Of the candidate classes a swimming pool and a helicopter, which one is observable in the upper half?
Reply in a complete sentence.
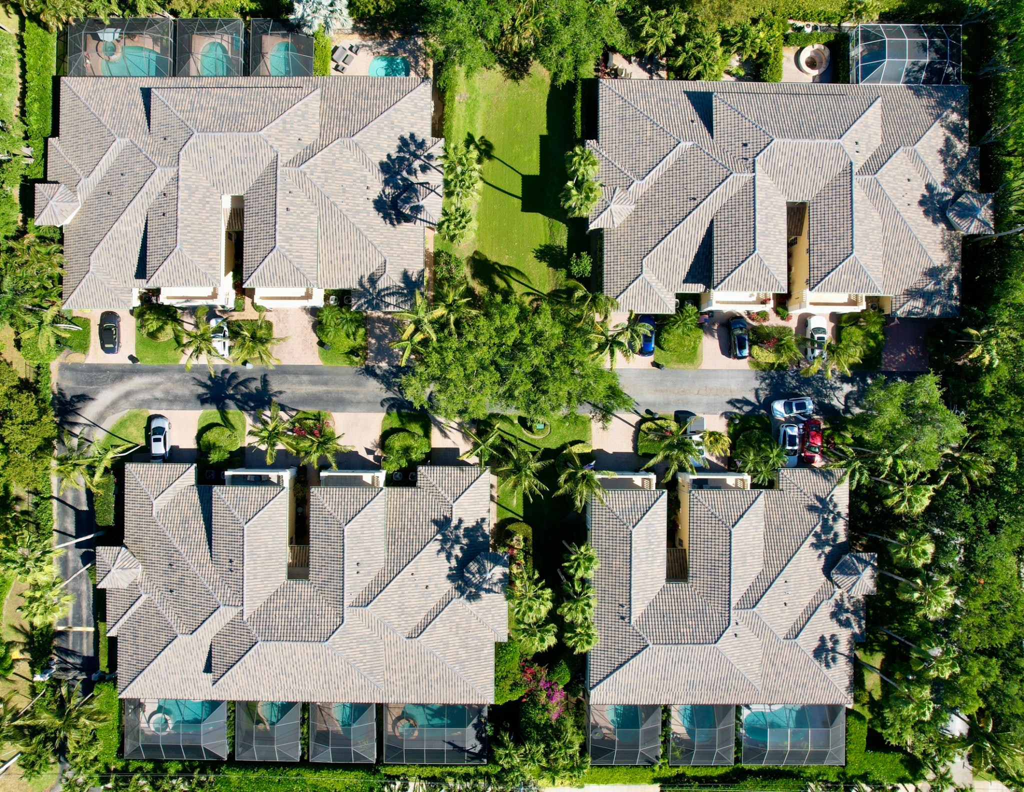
Visible in the upper half is a swimming pool.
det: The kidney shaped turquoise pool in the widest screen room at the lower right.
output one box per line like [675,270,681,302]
[743,704,840,759]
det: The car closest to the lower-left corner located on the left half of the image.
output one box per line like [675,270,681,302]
[148,417,172,461]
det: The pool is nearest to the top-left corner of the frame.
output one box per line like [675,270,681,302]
[56,18,174,76]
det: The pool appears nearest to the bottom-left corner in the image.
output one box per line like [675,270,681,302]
[129,701,229,756]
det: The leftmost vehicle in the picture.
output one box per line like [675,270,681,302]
[99,312,123,355]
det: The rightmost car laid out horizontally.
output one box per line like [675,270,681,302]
[769,397,814,418]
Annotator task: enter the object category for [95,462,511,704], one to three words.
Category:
building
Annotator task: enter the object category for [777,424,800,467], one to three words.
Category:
car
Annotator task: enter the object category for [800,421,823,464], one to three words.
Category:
car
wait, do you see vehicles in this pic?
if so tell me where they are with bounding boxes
[637,316,657,357]
[727,317,750,360]
[777,424,800,467]
[209,318,232,359]
[148,417,172,461]
[769,397,814,418]
[805,318,828,359]
[799,420,805,436]
[99,312,123,355]
[800,421,823,464]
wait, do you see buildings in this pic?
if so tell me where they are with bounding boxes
[95,462,511,704]
[495,466,879,705]
[583,78,994,320]
[32,74,447,314]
